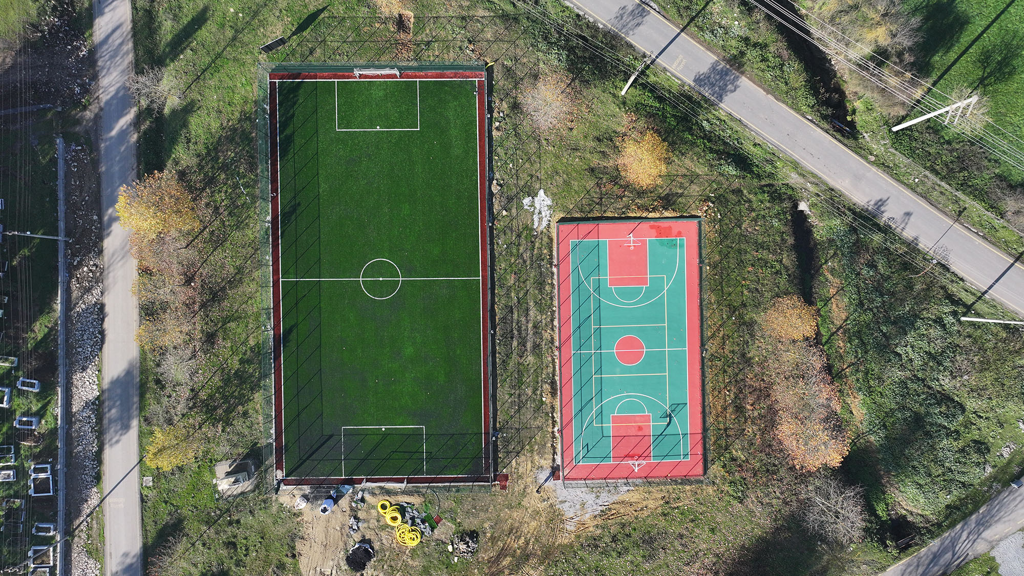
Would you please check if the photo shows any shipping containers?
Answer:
No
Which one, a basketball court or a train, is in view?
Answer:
basketball court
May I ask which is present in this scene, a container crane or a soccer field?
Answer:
soccer field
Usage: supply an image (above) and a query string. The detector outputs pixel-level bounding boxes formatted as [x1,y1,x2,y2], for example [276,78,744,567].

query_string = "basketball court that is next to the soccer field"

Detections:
[555,220,706,483]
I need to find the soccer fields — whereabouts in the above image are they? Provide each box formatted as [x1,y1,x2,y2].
[268,72,493,487]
